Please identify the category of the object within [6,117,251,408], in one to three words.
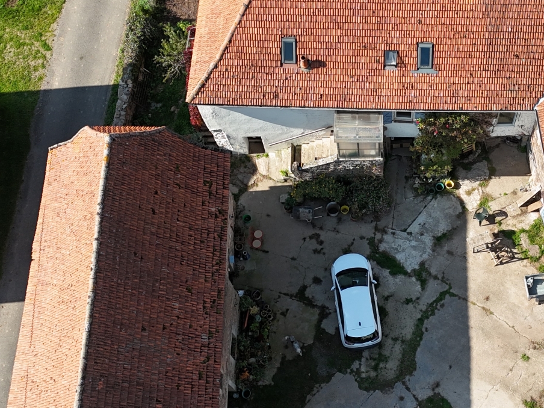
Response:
shed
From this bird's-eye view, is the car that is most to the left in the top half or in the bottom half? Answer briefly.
bottom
